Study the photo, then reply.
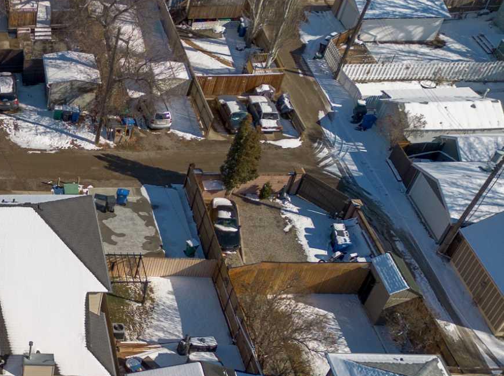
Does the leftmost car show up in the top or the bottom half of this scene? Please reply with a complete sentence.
The leftmost car is in the top half of the image.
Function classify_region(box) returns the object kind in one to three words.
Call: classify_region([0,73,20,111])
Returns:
car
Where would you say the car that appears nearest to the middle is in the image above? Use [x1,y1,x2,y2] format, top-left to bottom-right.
[208,197,247,248]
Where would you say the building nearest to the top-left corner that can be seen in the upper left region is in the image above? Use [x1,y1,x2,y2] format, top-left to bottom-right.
[42,46,102,106]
